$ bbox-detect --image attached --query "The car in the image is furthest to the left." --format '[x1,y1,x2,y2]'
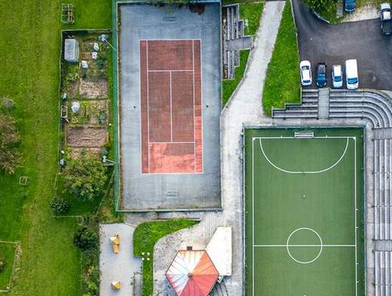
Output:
[299,60,312,85]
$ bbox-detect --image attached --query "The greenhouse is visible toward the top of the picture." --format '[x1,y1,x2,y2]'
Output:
[64,37,78,62]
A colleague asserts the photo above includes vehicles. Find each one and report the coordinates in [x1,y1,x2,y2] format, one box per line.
[316,63,328,85]
[299,60,312,85]
[344,0,357,11]
[332,63,345,86]
[381,2,392,35]
[346,58,360,88]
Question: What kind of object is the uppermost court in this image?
tennis court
